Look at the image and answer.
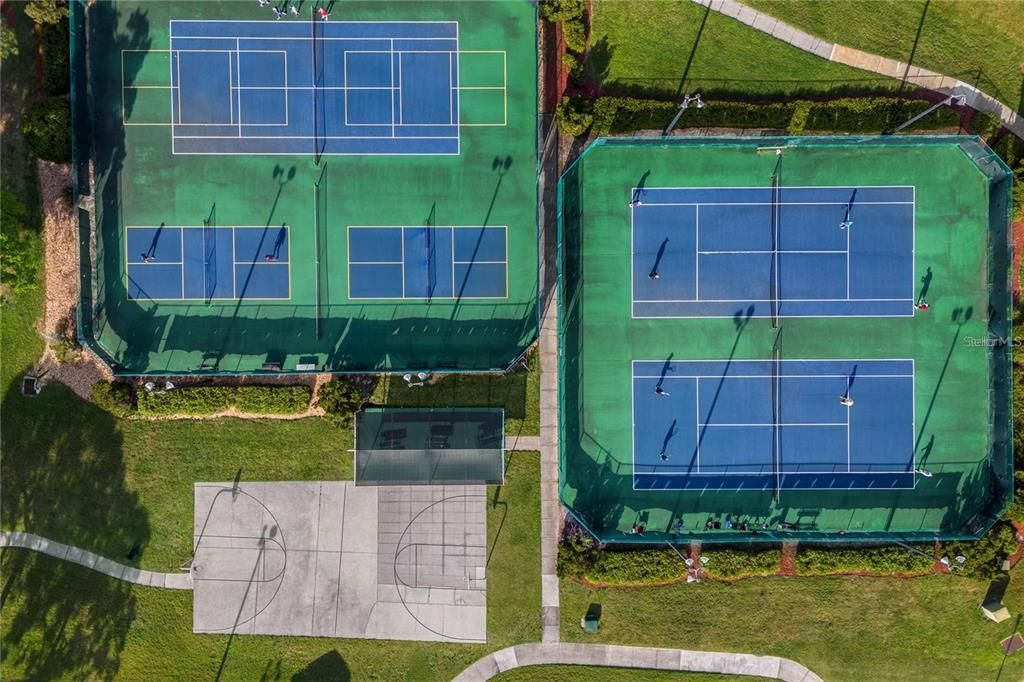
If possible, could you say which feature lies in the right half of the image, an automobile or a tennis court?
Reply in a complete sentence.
There is a tennis court in the right half of the image.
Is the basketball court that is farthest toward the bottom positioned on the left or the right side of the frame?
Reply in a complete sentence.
The basketball court that is farthest toward the bottom appears in the left half of the scene.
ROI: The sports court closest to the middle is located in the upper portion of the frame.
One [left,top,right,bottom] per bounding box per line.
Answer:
[347,226,508,299]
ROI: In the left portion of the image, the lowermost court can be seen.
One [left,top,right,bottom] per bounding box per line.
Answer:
[193,481,487,643]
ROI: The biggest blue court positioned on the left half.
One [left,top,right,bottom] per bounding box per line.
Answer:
[122,21,506,154]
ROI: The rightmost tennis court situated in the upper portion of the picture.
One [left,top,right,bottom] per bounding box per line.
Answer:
[632,186,915,318]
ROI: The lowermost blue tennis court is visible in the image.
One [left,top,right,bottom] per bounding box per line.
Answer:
[632,359,915,490]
